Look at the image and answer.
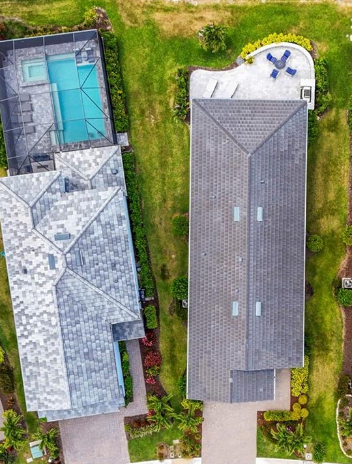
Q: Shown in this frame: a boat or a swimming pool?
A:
swimming pool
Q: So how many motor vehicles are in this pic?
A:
0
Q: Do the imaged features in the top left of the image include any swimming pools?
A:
Yes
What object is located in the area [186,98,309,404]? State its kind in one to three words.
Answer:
house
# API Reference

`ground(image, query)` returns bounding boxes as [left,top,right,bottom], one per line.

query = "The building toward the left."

[0,144,147,420]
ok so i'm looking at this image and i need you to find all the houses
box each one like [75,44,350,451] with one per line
[186,98,309,404]
[0,144,147,420]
